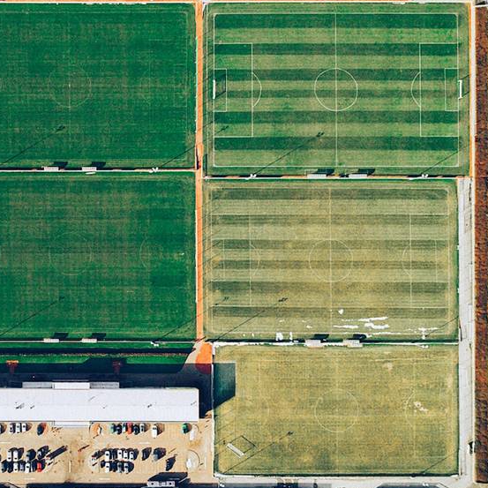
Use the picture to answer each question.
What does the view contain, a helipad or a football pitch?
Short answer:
football pitch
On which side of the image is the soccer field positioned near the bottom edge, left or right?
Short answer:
right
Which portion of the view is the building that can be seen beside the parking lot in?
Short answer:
bottom left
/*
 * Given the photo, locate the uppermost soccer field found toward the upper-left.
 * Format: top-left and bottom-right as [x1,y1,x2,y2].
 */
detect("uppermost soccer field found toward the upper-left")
[0,3,197,169]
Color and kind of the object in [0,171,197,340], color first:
green soccer field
